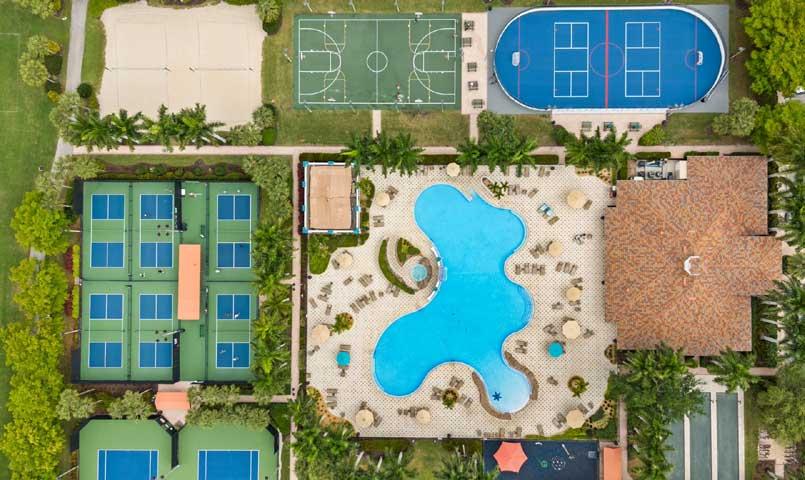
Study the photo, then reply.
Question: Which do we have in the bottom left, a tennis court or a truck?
tennis court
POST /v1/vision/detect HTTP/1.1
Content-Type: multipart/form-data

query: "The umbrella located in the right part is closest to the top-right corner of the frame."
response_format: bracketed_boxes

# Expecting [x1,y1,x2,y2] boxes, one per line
[567,189,586,208]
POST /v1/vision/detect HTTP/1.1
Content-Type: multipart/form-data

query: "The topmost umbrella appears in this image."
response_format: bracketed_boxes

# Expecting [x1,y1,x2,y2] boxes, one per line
[447,163,460,176]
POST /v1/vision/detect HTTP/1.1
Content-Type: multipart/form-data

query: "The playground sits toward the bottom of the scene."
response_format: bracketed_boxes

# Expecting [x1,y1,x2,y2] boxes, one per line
[484,442,599,480]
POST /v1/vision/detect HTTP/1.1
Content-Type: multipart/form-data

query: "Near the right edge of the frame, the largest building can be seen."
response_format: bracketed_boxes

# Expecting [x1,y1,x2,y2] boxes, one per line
[605,155,782,357]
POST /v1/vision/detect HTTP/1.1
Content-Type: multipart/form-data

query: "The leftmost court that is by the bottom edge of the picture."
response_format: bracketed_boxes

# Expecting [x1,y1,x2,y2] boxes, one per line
[80,426,171,480]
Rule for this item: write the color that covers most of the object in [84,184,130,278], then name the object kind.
green sports court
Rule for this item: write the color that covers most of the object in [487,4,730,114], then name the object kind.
blue sports court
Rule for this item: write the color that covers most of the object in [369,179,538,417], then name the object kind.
blue swimming pool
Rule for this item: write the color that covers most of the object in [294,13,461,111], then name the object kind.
green basketball court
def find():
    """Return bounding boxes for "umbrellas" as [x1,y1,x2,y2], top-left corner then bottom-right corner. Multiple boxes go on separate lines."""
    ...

[548,343,563,357]
[447,163,460,176]
[562,321,580,339]
[311,325,329,343]
[357,409,374,427]
[336,351,351,365]
[566,287,580,301]
[566,410,584,428]
[416,408,430,423]
[375,192,389,207]
[567,189,586,208]
[549,242,562,255]
[336,251,352,267]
